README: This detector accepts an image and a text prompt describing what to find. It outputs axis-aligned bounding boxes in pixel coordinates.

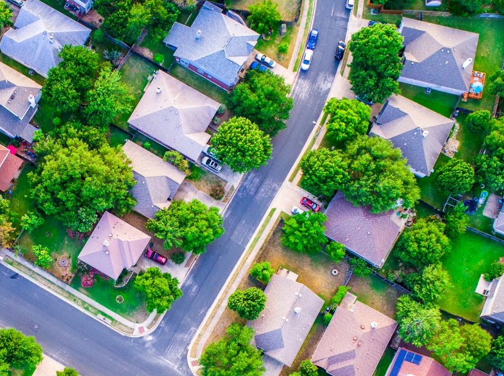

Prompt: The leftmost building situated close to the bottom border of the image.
[248,275,325,368]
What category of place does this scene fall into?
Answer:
residential area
